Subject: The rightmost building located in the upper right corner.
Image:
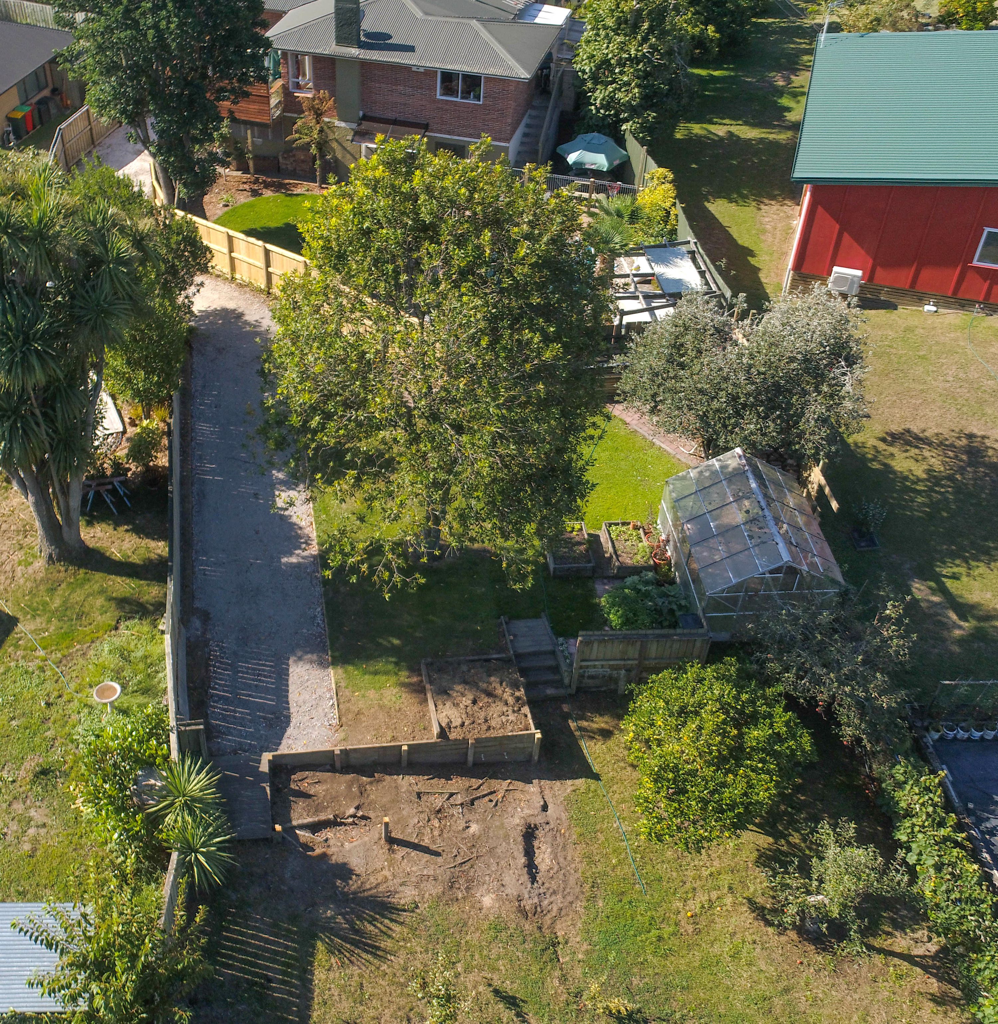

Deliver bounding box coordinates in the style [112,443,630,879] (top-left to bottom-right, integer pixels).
[783,29,998,326]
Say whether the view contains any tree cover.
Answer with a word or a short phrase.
Yes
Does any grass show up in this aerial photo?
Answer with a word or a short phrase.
Yes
